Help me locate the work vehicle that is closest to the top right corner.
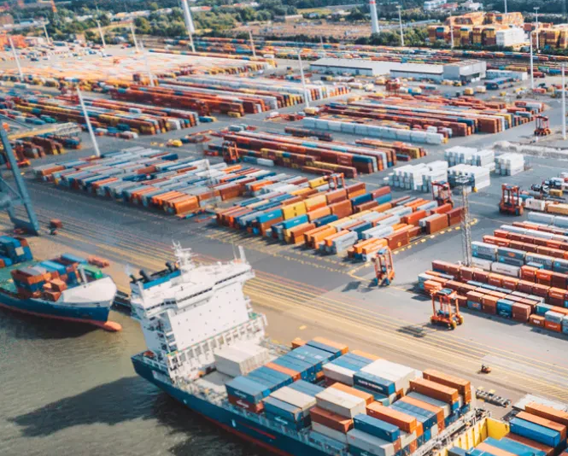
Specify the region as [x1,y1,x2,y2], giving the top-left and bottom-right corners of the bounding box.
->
[532,115,551,136]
